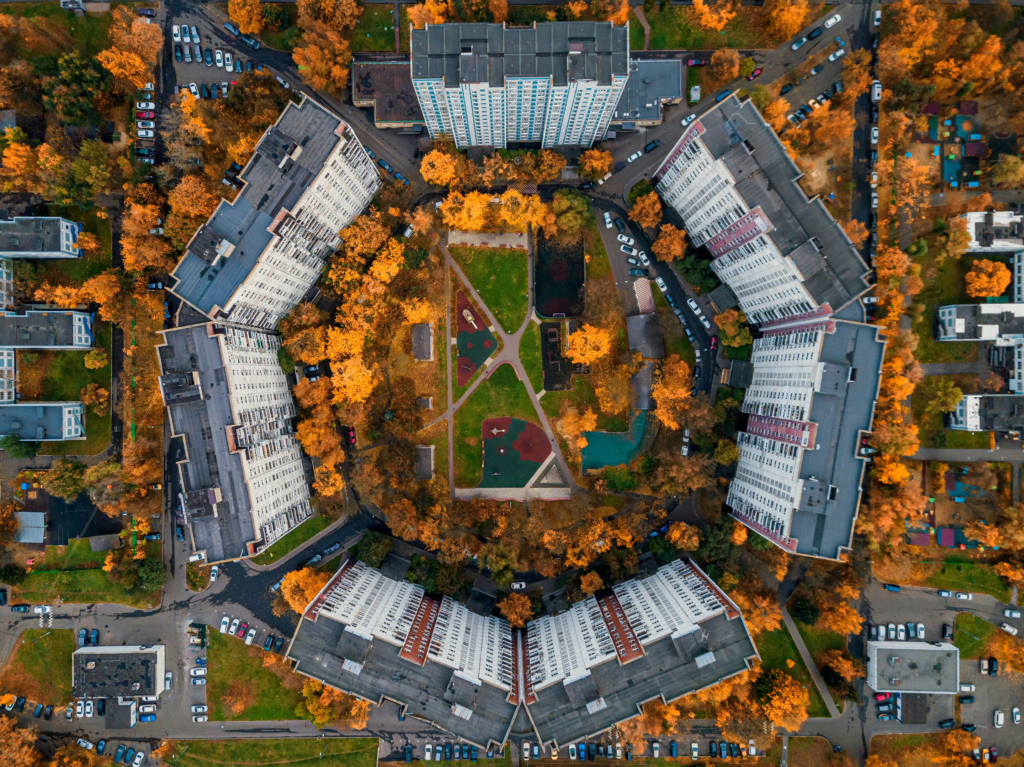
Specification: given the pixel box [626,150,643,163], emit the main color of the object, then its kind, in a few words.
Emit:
white vehicle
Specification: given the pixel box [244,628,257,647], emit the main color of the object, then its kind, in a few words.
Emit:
white vehicle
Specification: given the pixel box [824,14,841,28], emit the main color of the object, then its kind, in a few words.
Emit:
white car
